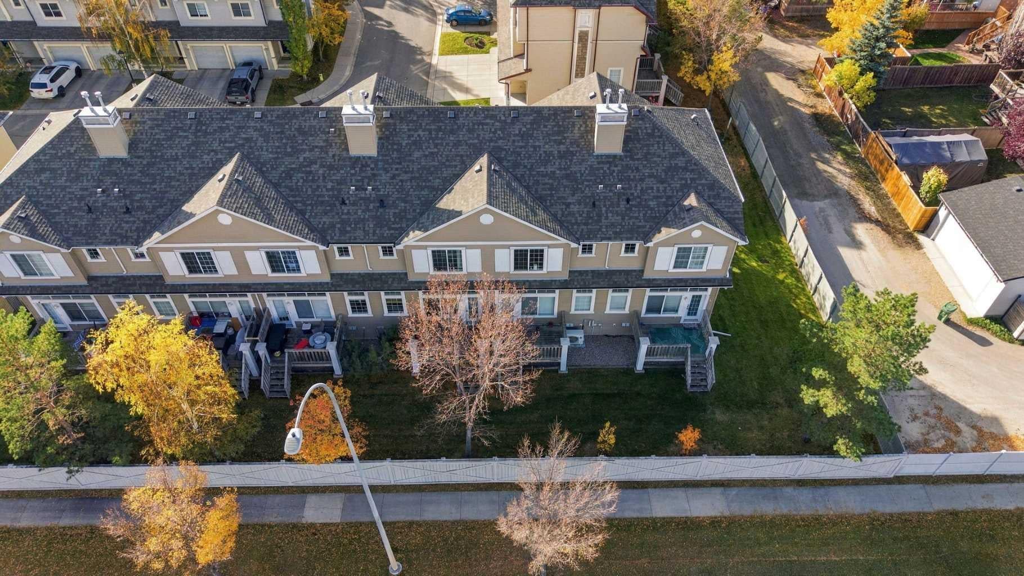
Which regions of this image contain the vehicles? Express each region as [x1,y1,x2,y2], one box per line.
[444,4,493,26]
[30,62,80,98]
[224,63,263,105]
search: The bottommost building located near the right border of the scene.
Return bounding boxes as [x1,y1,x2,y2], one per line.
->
[923,171,1024,330]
